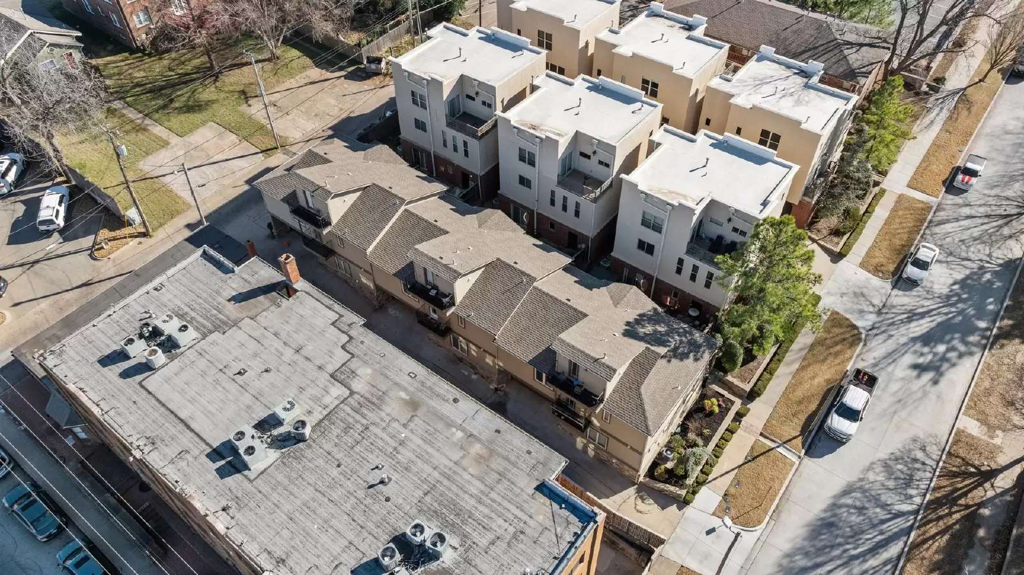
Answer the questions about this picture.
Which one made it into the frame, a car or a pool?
car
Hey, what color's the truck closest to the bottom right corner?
white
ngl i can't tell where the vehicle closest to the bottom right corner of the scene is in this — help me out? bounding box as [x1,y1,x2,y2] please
[826,366,889,447]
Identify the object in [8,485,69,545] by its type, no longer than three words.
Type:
car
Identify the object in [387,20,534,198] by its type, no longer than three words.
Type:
house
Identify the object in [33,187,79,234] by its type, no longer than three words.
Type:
car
